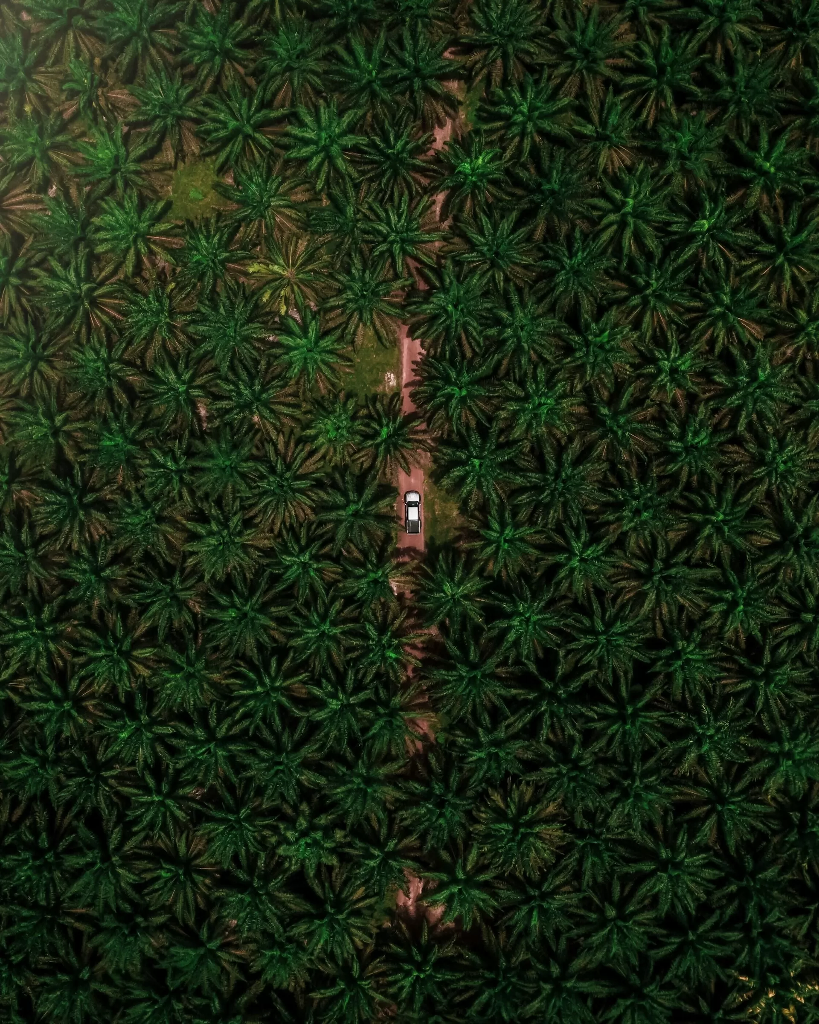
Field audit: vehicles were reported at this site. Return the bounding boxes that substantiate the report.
[404,491,422,534]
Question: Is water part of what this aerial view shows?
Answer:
No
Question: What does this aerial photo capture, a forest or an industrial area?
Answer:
forest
